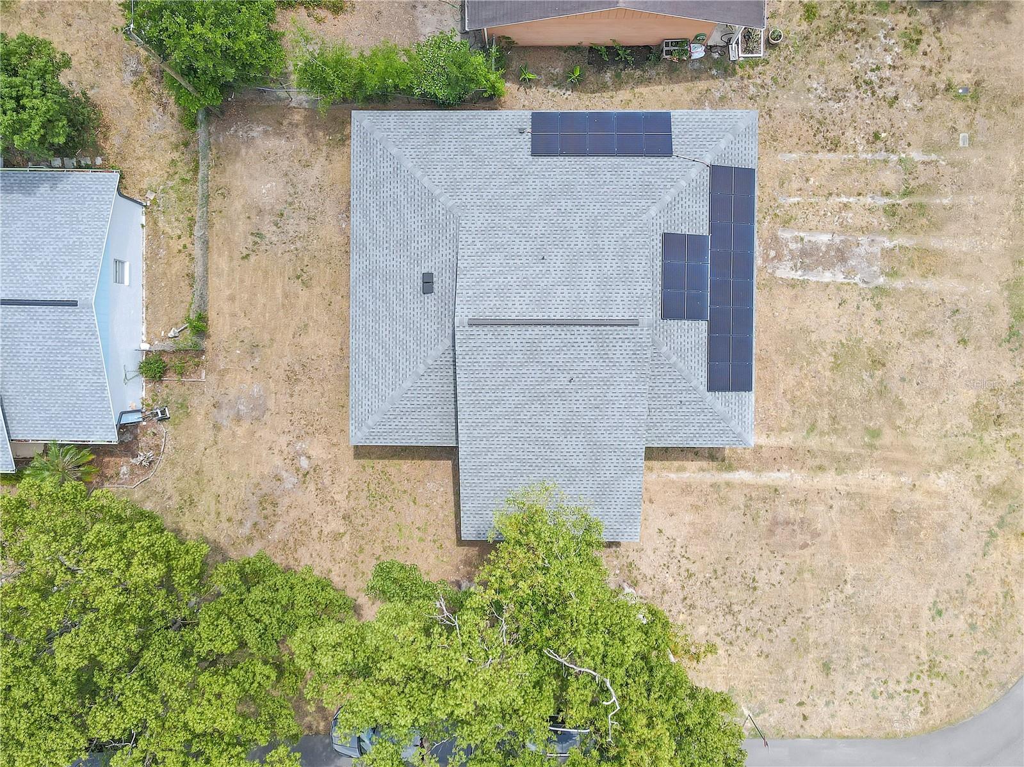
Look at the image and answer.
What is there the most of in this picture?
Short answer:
grass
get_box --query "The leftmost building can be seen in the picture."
[0,168,149,477]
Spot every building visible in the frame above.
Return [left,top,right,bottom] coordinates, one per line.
[0,168,149,477]
[348,107,758,541]
[465,0,768,54]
